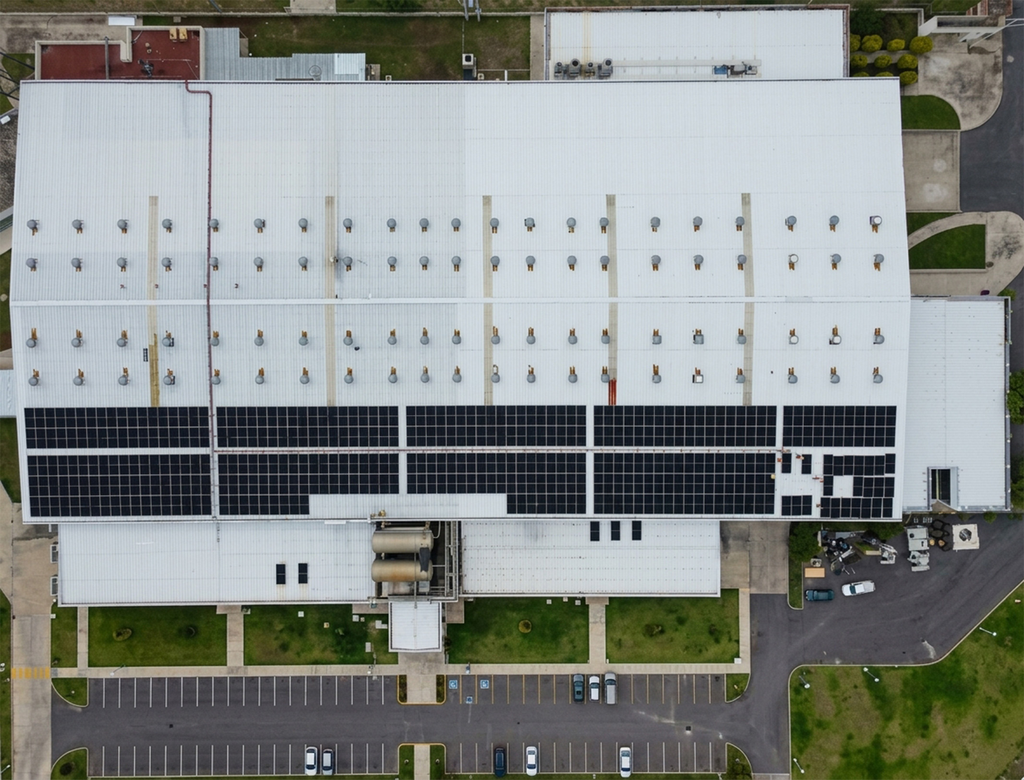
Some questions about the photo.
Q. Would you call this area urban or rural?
urban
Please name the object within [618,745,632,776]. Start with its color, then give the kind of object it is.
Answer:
white car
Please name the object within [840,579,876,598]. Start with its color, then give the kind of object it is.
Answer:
white vehicle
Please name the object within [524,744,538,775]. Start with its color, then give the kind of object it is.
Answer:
white car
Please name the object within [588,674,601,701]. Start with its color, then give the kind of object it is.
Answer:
white vehicle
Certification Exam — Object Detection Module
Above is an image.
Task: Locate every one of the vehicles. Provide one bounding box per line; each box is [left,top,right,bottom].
[803,588,833,603]
[304,745,319,774]
[321,747,334,774]
[524,744,538,775]
[588,674,601,701]
[604,671,618,706]
[618,745,632,776]
[840,579,876,598]
[493,746,506,776]
[572,673,585,702]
